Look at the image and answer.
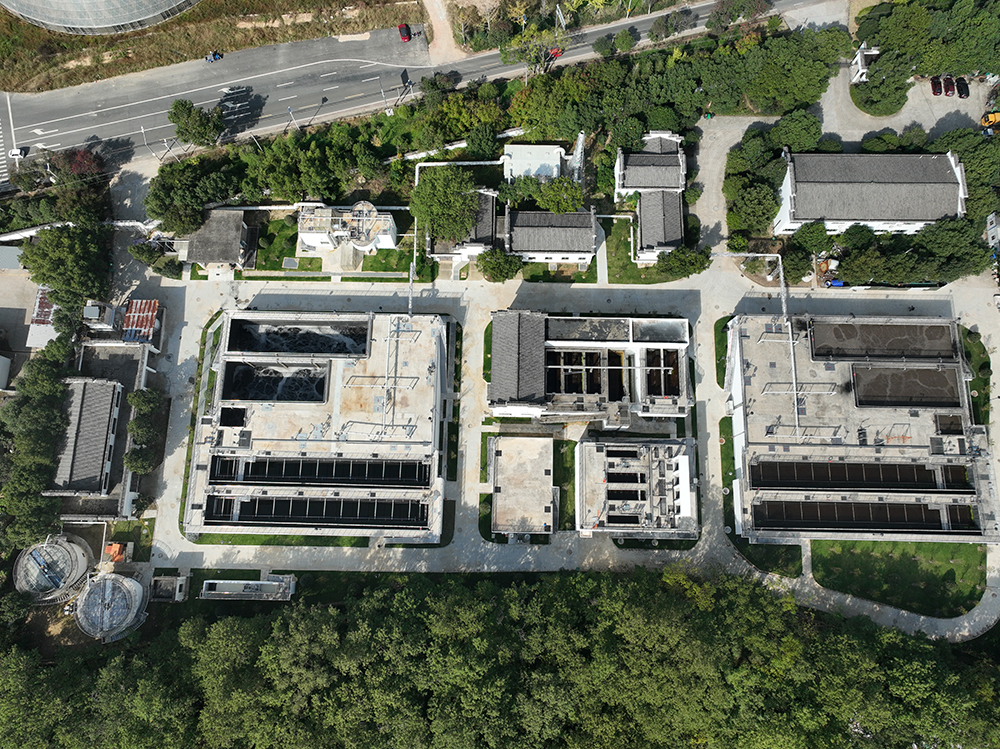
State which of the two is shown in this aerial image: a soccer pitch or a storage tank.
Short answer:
storage tank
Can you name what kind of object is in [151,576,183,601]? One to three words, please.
building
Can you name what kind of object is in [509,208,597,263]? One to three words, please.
house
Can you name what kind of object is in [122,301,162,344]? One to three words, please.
shed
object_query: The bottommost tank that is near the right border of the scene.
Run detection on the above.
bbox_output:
[719,312,1000,546]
